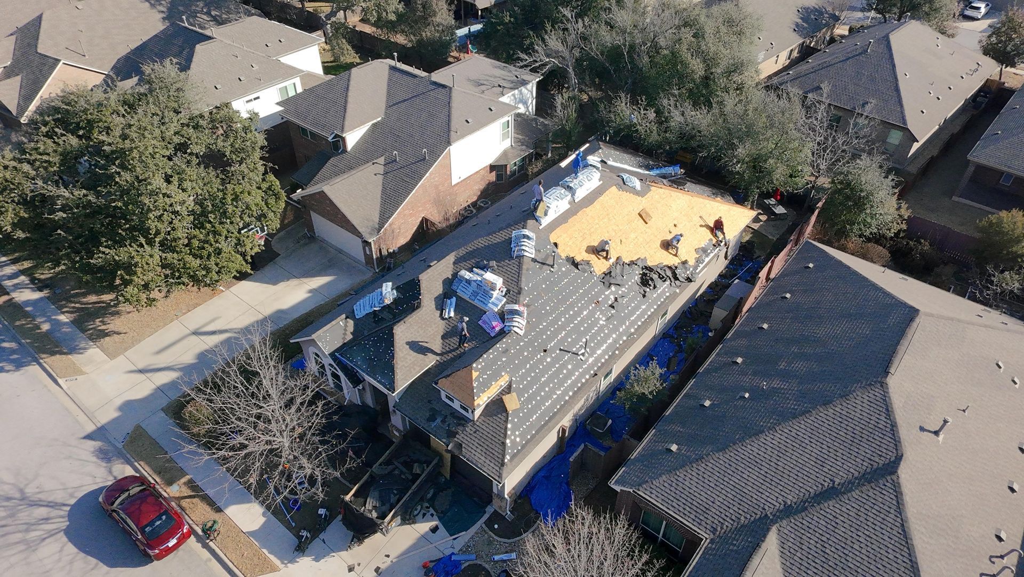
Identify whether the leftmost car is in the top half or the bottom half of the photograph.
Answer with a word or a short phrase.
bottom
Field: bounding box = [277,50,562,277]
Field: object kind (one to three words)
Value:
house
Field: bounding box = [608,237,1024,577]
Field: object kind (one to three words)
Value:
house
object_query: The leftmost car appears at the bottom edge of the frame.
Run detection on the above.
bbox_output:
[101,476,187,561]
